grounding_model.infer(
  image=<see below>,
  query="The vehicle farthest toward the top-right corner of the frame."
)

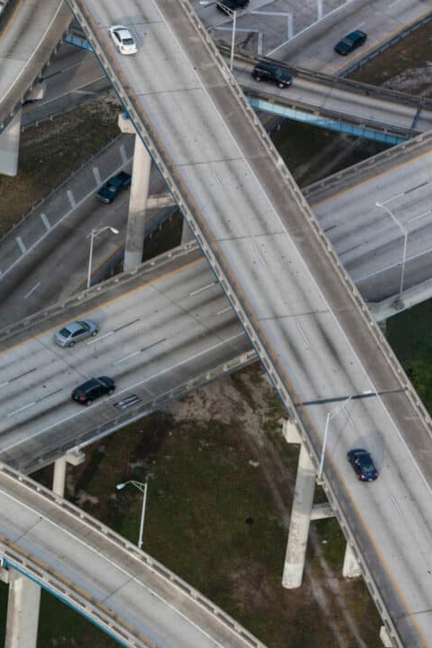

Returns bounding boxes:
[334,31,367,53]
